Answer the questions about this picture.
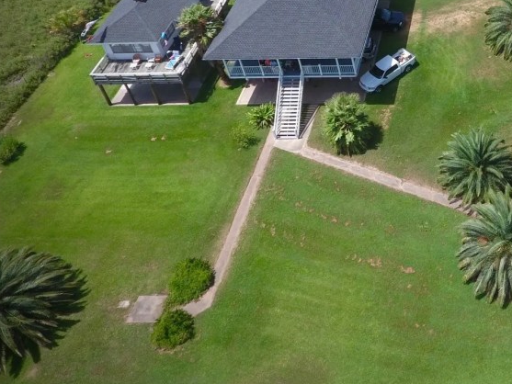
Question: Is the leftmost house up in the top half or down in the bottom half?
top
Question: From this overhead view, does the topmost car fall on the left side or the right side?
right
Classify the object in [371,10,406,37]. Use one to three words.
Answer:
car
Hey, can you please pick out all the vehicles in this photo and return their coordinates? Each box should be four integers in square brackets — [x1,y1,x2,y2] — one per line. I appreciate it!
[359,31,379,68]
[371,10,406,37]
[356,46,422,94]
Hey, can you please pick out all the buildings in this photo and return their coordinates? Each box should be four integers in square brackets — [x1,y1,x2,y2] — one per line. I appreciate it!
[204,0,388,137]
[85,0,237,105]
